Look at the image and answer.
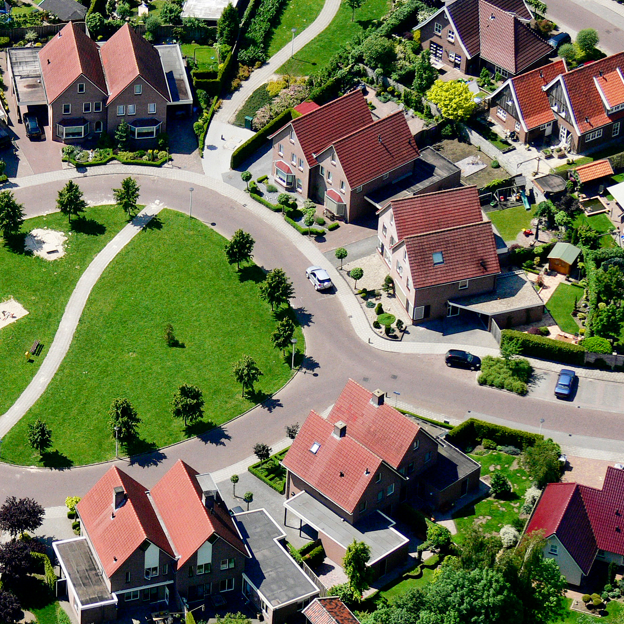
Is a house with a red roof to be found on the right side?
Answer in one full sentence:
Yes, on the right side there is a house with a red roof.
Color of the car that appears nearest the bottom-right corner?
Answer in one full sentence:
In this view, the car that appears nearest the bottom-right corner is blue.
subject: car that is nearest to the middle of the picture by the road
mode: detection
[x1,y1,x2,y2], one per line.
[303,263,333,289]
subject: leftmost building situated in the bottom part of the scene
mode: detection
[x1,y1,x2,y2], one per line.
[53,459,320,624]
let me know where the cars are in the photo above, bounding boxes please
[303,263,333,289]
[227,498,258,515]
[0,122,11,147]
[23,111,41,136]
[173,103,187,120]
[546,28,575,50]
[445,353,480,372]
[555,369,575,398]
